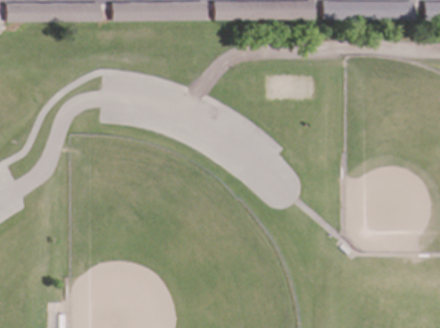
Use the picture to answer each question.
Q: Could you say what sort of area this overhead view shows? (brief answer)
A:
sports ground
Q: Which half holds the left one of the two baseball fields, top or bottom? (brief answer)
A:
bottom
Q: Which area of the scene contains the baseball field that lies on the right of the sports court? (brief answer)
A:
right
